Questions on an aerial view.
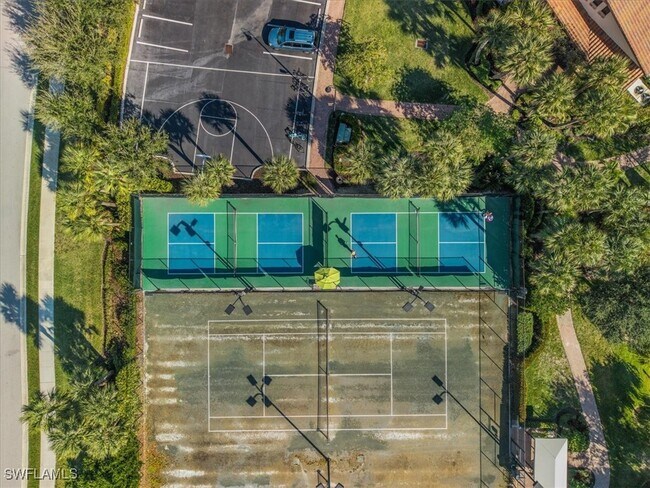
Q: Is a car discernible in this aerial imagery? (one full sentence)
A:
Yes, there's a car down there.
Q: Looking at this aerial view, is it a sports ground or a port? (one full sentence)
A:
This image shows a sports ground.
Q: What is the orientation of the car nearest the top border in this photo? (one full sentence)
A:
I'd say the car nearest the top border is aligned from left to right in the picture.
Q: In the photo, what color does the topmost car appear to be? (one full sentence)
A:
The color of the topmost car is blue.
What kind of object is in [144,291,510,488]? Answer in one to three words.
tennis court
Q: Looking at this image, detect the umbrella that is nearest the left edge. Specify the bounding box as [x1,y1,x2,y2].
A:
[314,268,338,292]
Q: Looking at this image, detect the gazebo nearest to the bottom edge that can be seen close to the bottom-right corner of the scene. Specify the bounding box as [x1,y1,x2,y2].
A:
[533,437,567,488]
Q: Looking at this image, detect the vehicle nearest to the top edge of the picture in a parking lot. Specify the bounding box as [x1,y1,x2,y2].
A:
[267,26,317,53]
